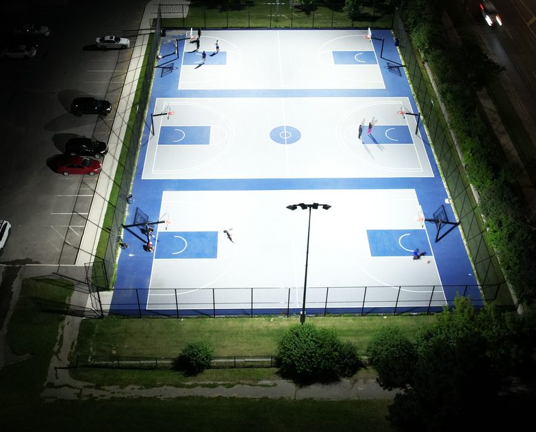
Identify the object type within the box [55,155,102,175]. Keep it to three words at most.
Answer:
car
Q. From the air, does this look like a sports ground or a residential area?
sports ground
